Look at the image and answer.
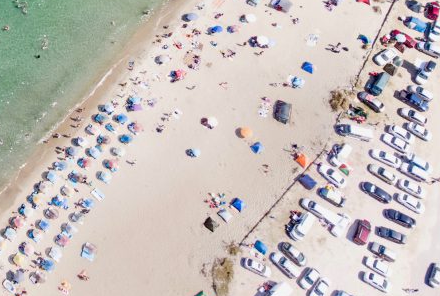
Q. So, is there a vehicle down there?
Yes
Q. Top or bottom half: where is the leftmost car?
bottom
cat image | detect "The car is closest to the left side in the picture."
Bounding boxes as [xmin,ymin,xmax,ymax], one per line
[242,258,271,280]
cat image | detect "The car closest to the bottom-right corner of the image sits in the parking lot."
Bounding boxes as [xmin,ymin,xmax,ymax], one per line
[423,259,440,290]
